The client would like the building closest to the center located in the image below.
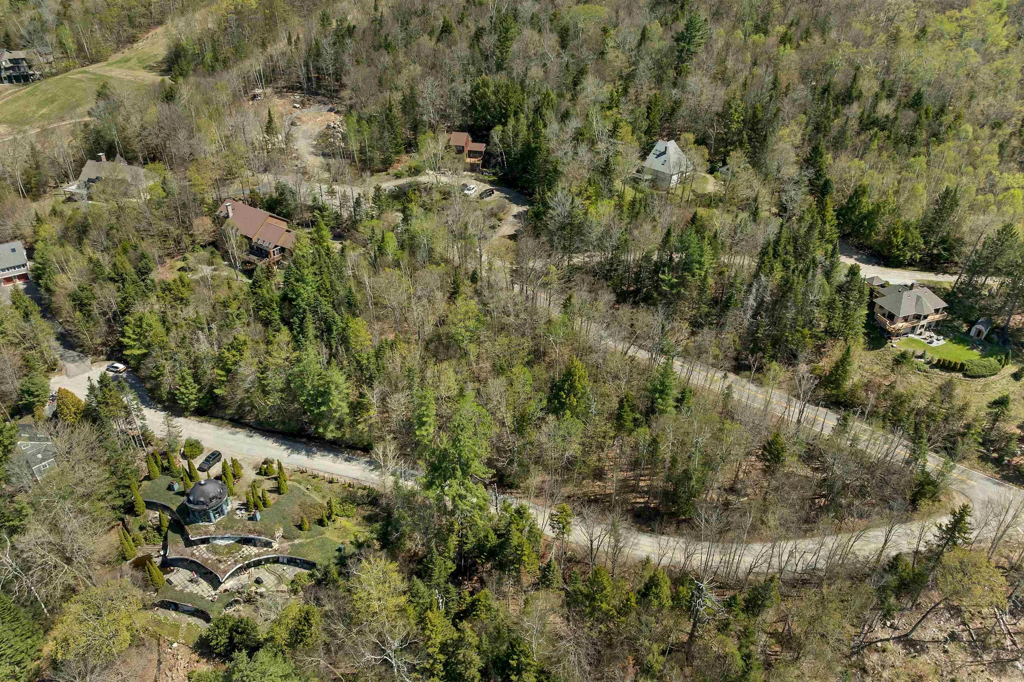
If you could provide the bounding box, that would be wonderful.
[449,135,485,163]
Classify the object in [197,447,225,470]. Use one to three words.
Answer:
car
